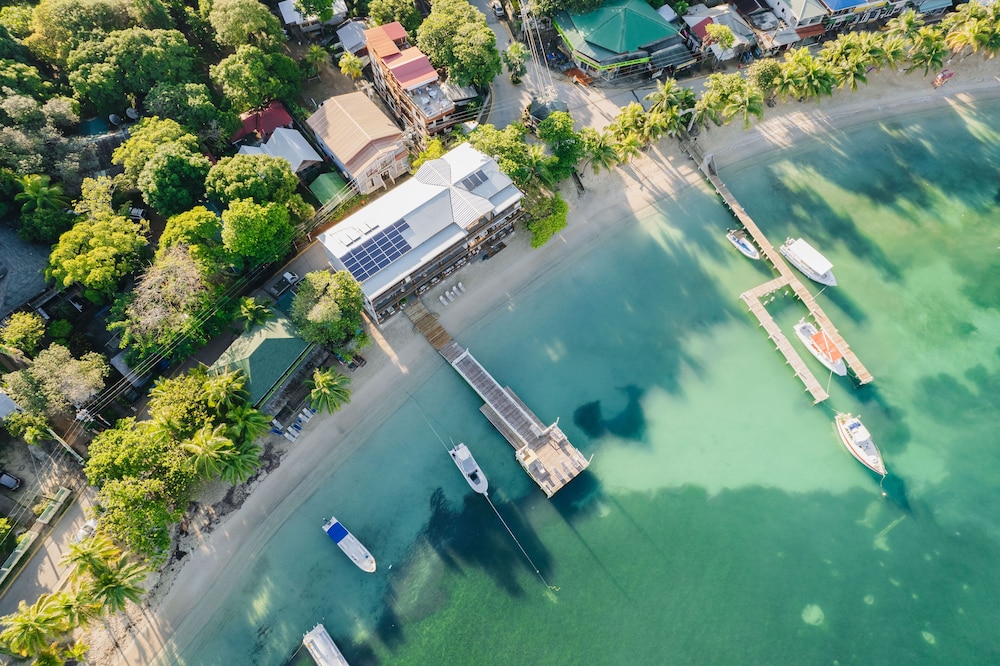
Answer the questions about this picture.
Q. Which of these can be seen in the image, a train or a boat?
boat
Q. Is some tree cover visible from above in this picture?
Yes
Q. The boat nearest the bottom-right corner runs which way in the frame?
on a diagonal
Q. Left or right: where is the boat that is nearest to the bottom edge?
left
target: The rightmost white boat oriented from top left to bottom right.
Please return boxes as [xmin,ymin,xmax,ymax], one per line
[829,412,895,482]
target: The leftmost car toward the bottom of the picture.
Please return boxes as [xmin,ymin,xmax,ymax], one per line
[0,466,24,498]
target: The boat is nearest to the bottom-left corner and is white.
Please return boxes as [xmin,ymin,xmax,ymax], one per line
[299,625,356,666]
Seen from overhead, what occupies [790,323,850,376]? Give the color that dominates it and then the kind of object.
white boat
